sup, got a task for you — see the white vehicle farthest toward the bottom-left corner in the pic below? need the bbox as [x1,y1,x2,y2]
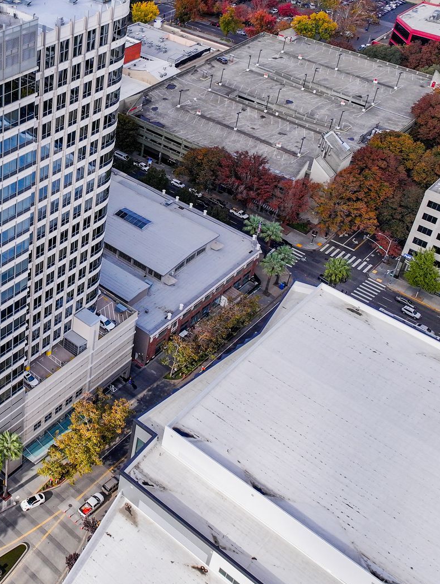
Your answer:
[22,492,44,515]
